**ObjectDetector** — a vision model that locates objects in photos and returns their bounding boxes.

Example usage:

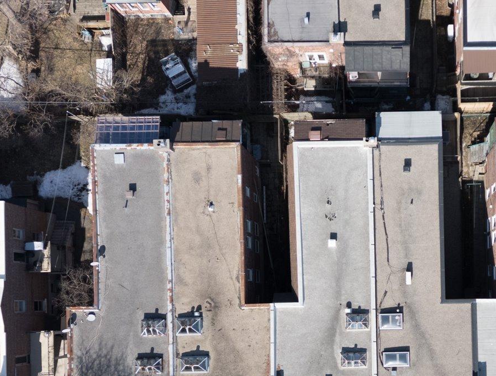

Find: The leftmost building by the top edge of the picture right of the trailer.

[197,0,256,120]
